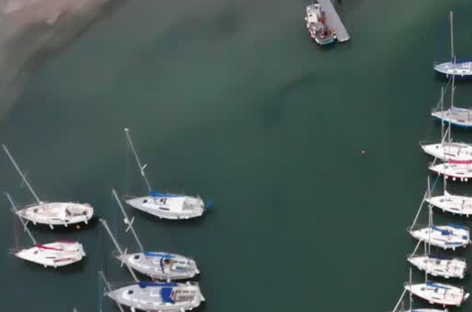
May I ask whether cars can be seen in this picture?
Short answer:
No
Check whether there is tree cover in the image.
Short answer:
No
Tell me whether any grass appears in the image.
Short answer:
No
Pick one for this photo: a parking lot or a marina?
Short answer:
marina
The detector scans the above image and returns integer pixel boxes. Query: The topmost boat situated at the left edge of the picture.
[1,144,96,226]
